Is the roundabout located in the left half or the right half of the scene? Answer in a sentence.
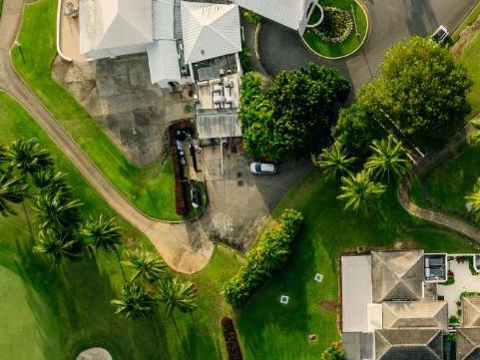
The roundabout is on the right side of the image.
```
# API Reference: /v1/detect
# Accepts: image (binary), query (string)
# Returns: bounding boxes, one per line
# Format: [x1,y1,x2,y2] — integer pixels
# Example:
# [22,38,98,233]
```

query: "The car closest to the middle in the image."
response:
[251,160,277,174]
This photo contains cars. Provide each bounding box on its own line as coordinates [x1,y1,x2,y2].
[438,24,452,38]
[251,160,277,174]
